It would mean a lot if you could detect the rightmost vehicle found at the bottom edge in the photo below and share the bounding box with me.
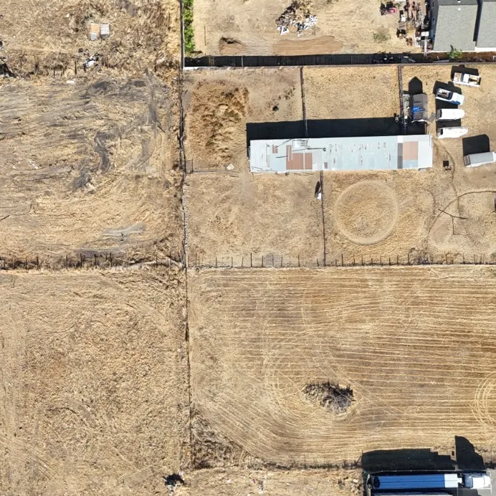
[458,471,486,488]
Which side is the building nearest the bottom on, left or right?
right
